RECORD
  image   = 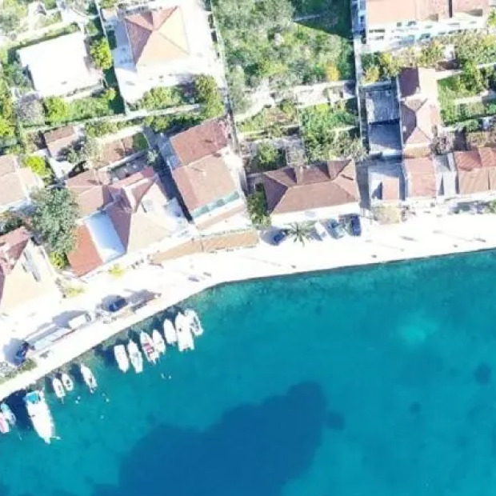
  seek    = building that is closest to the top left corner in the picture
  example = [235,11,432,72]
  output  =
[19,31,106,105]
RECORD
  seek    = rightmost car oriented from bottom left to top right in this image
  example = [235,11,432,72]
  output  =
[268,227,289,247]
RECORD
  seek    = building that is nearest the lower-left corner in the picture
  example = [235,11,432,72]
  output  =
[0,226,69,314]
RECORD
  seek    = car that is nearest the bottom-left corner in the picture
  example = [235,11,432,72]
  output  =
[12,341,31,363]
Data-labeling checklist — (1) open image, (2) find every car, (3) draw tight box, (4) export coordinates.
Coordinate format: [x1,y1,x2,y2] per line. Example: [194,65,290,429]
[268,227,289,247]
[350,211,361,236]
[12,341,31,363]
[103,292,127,312]
[312,220,330,242]
[328,216,345,241]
